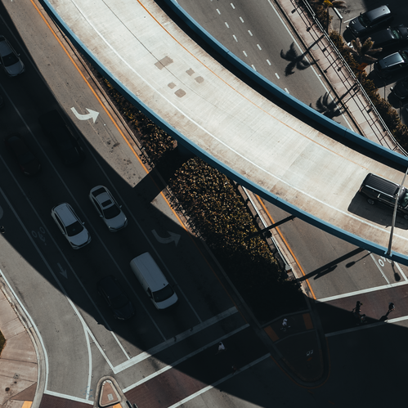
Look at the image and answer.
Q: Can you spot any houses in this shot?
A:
No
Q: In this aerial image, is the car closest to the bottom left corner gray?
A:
No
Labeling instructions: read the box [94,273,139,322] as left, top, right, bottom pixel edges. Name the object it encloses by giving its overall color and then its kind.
black car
